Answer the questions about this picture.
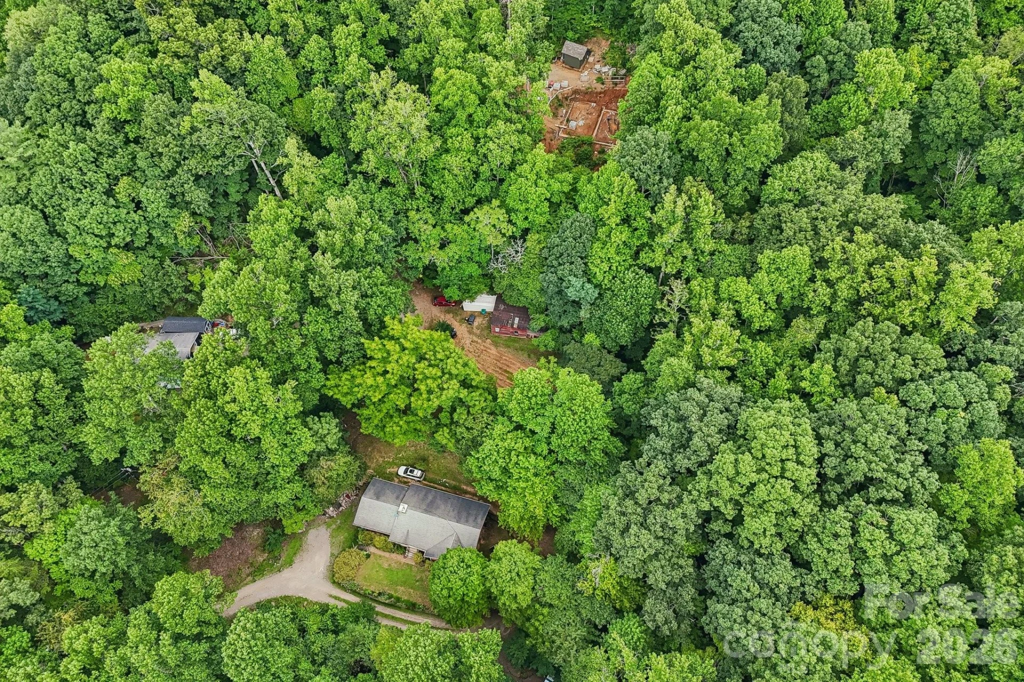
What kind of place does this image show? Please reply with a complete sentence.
This looks like a forest.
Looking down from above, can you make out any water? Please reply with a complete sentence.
No, the picture contains no water.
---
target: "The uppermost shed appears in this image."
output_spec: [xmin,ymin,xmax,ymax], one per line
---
[562,46,589,71]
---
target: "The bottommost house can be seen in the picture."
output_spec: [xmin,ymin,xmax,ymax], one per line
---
[354,477,489,560]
